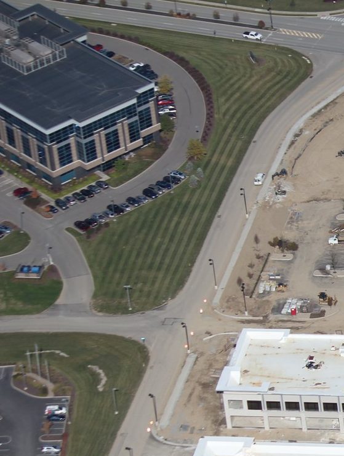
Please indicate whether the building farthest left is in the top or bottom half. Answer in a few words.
top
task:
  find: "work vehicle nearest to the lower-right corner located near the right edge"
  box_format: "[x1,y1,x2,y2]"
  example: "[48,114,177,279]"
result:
[315,291,332,305]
